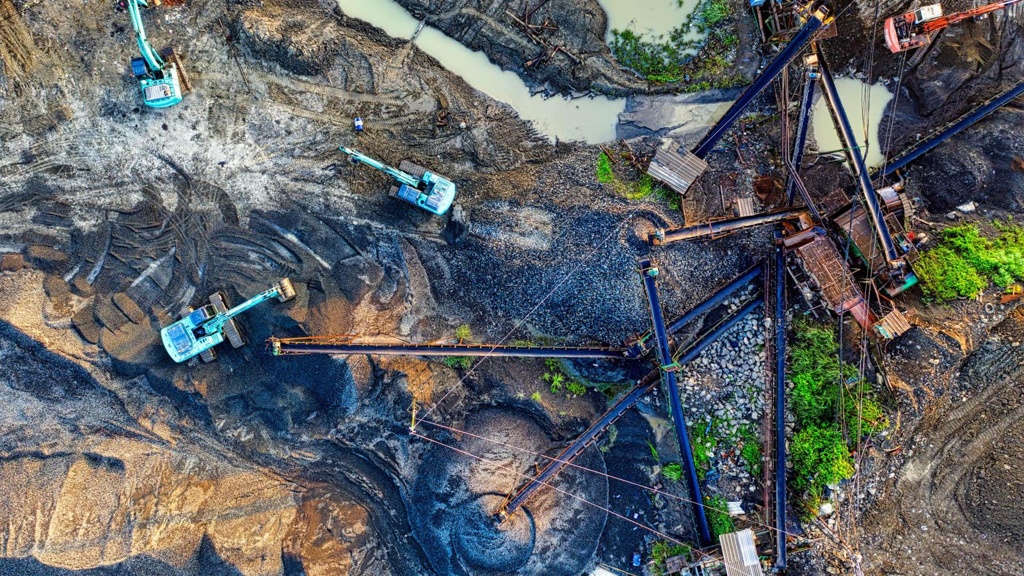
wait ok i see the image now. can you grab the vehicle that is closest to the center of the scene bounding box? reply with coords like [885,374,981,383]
[338,134,460,216]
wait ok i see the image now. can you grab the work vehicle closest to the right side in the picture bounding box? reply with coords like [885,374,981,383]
[882,1,1024,77]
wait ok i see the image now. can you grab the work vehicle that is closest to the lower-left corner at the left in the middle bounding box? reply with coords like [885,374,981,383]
[166,277,305,365]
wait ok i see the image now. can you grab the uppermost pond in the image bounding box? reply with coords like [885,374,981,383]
[600,0,716,82]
